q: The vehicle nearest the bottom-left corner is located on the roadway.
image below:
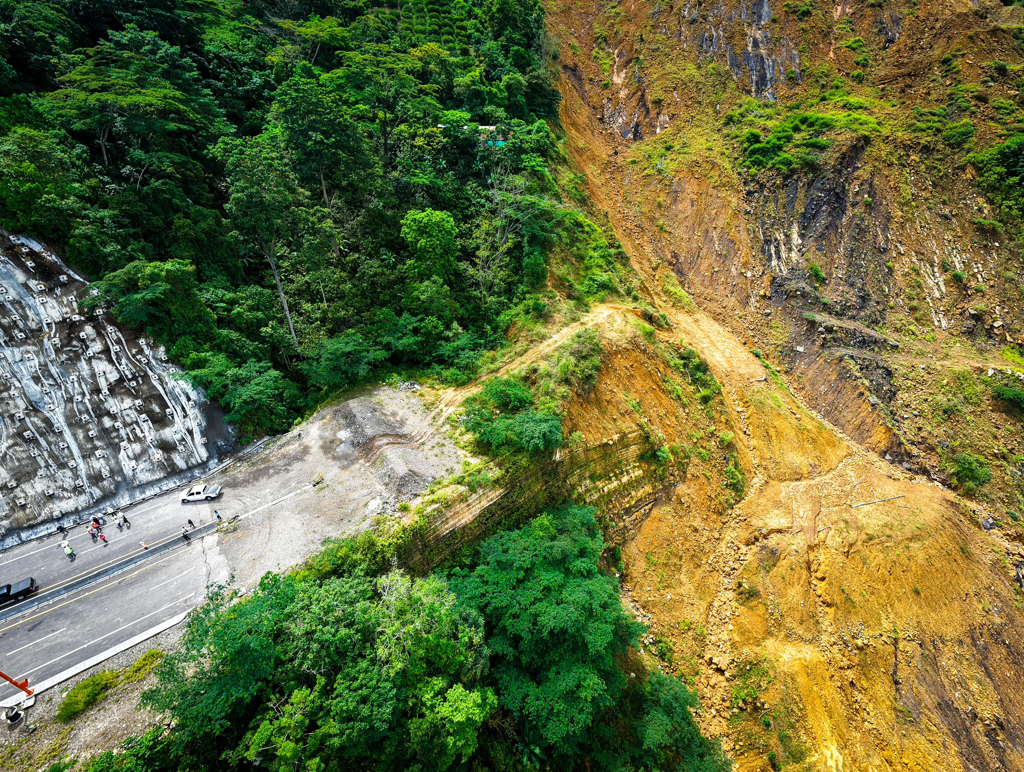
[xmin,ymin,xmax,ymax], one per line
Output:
[0,576,32,606]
